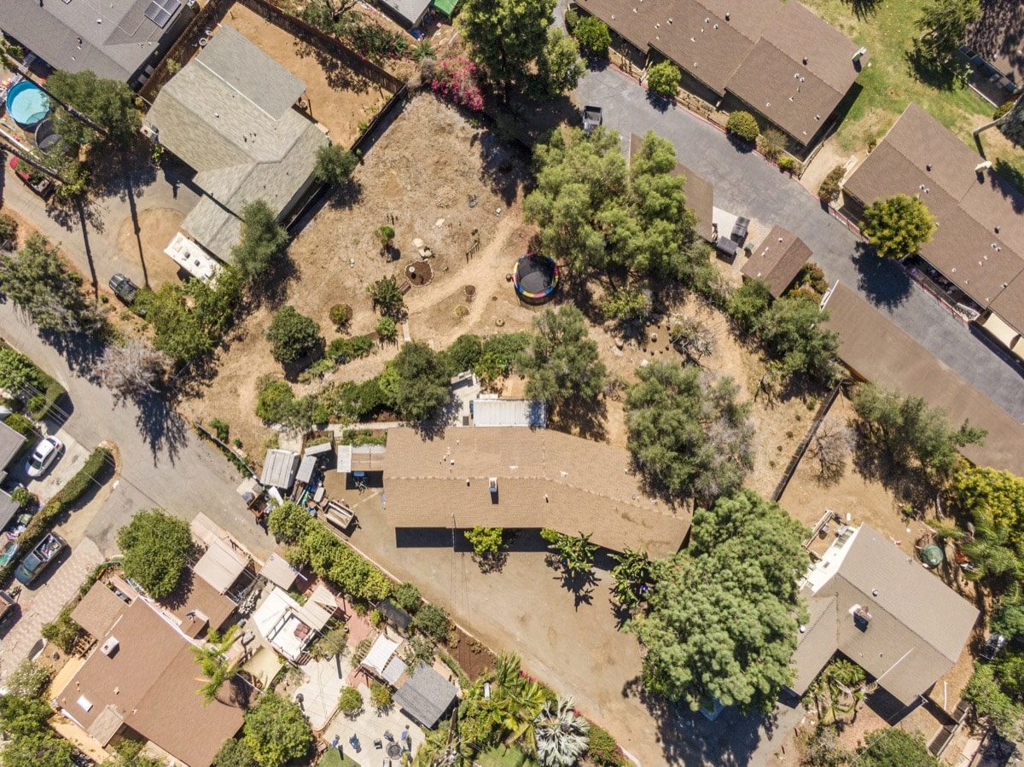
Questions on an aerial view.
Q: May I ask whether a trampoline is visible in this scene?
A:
Yes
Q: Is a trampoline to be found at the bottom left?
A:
No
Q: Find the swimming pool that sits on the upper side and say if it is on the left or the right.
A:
left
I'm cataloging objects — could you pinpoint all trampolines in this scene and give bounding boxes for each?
[514,252,560,301]
[31,120,66,157]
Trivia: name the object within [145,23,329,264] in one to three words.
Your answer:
house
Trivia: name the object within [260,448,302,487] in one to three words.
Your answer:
shed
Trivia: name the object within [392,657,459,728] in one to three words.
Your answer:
shed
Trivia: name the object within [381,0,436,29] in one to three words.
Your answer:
house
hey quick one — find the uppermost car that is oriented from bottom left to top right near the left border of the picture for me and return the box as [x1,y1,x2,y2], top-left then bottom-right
[21,434,64,478]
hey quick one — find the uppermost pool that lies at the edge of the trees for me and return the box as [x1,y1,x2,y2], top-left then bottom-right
[0,79,51,129]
